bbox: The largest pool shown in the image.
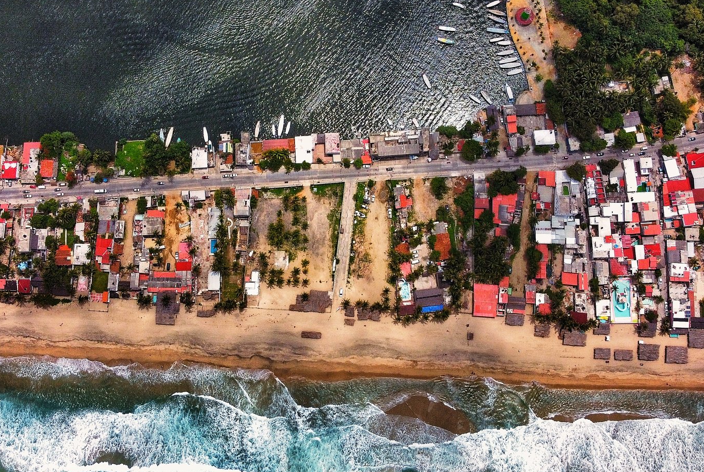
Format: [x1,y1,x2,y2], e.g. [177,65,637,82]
[612,279,632,318]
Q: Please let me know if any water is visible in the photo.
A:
Yes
